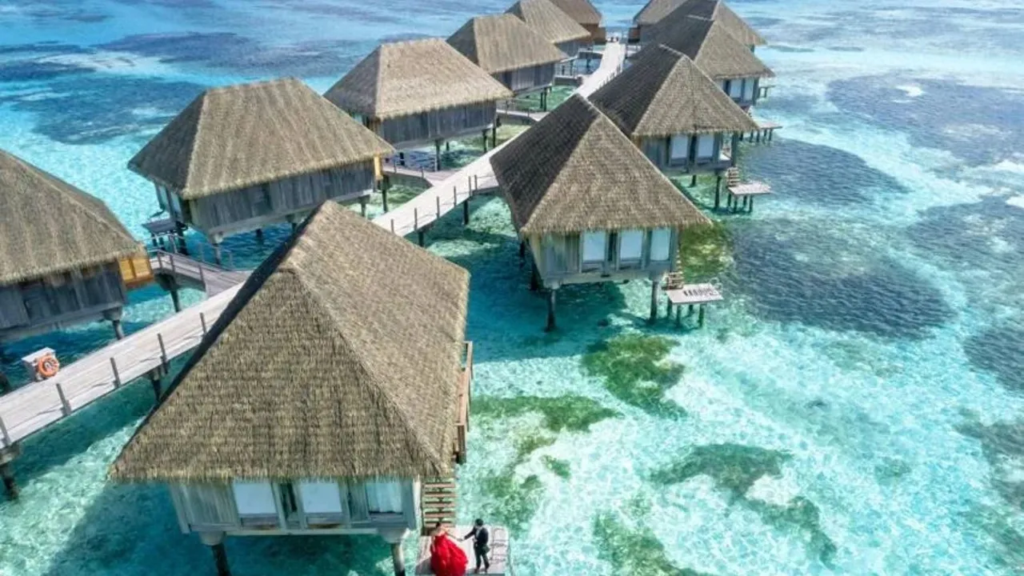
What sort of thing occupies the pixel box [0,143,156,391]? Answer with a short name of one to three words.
house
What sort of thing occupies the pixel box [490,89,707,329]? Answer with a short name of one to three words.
house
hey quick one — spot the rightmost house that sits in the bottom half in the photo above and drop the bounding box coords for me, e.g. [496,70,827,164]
[110,199,477,576]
